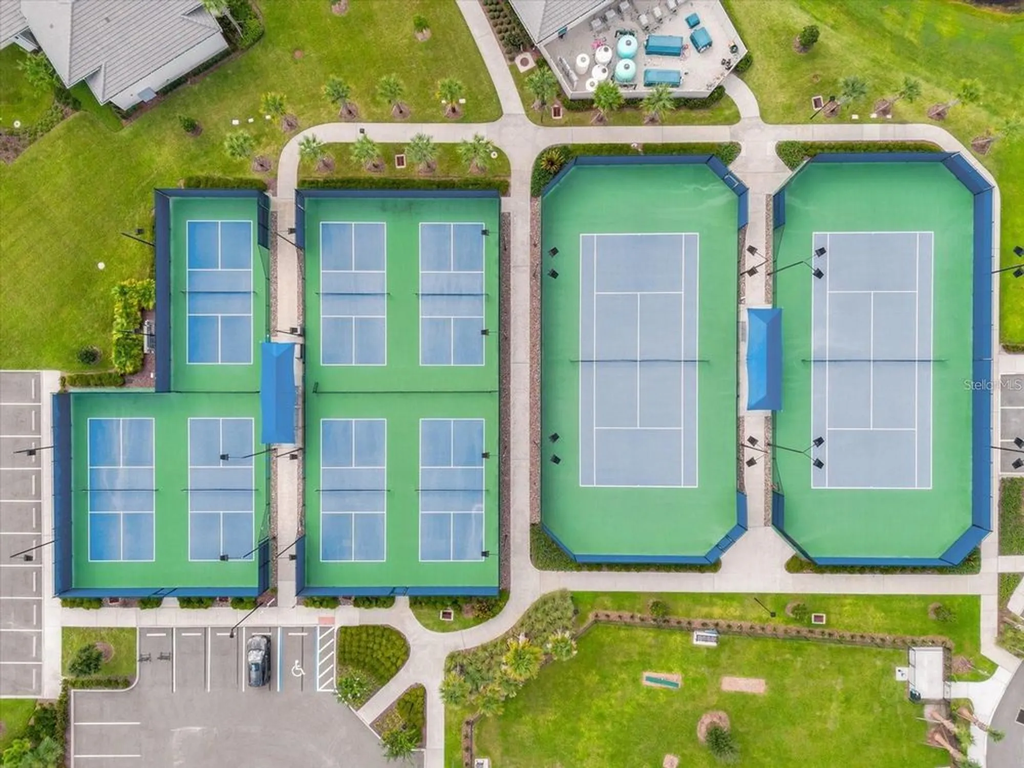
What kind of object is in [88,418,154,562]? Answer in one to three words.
sports court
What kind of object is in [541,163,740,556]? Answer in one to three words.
tennis court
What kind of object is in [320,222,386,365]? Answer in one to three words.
sports court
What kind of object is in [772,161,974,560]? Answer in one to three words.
tennis court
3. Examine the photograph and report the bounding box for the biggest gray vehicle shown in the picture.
[244,637,270,688]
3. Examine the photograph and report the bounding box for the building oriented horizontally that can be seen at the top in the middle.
[505,0,621,52]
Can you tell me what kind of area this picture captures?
sports ground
